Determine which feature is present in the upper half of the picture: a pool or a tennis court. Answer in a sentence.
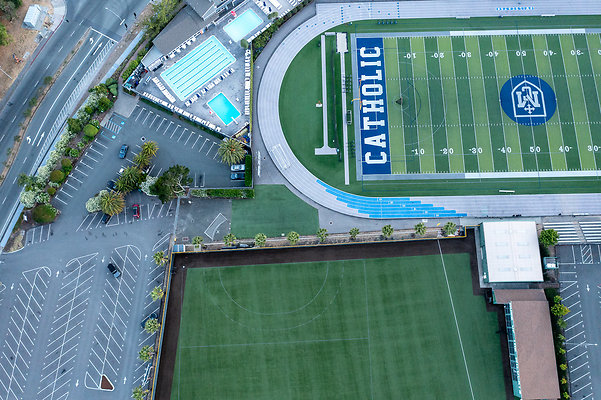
It is a pool that can be seen in the upper half of the picture.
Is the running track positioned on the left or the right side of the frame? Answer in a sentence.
The running track sits on the right side.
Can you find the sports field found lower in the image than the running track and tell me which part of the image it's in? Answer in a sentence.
The sports field found lower in the image than the running track is in the bottom part of the image.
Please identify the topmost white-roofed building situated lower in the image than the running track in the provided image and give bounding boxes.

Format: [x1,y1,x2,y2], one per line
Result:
[480,221,543,283]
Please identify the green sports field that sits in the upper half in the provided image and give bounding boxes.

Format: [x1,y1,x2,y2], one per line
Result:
[350,21,601,188]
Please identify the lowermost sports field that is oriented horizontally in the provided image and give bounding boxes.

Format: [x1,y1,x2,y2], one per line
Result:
[154,227,515,400]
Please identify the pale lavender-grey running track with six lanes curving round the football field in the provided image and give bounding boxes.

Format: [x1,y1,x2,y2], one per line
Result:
[256,0,601,219]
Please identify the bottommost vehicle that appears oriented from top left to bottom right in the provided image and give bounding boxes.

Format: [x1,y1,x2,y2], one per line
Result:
[106,260,121,279]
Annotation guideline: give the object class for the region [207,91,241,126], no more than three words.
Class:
swimming pool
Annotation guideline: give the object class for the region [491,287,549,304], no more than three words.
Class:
shed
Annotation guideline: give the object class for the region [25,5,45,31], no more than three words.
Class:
shed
